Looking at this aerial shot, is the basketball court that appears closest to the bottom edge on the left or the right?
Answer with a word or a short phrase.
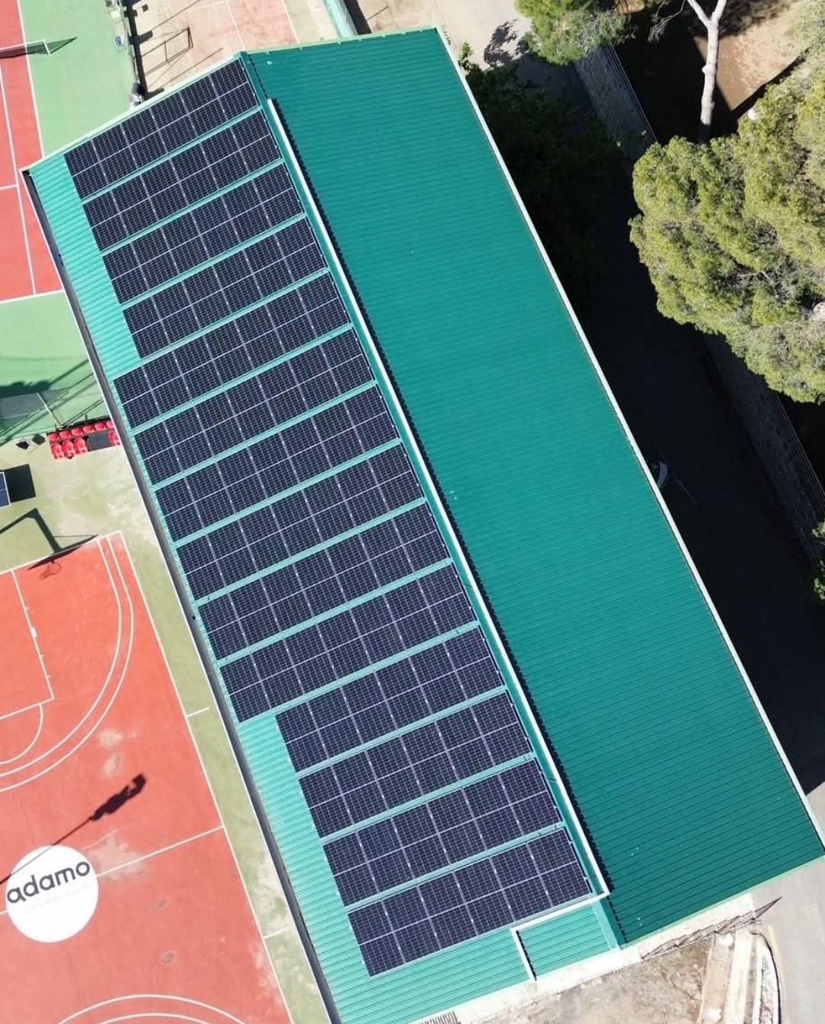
left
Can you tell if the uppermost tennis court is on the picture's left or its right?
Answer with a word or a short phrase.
left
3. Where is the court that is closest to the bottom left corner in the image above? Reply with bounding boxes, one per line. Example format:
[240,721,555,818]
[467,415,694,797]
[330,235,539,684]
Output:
[0,530,290,1024]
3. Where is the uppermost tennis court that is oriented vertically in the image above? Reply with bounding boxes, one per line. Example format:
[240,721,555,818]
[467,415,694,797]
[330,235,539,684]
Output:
[0,0,63,302]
